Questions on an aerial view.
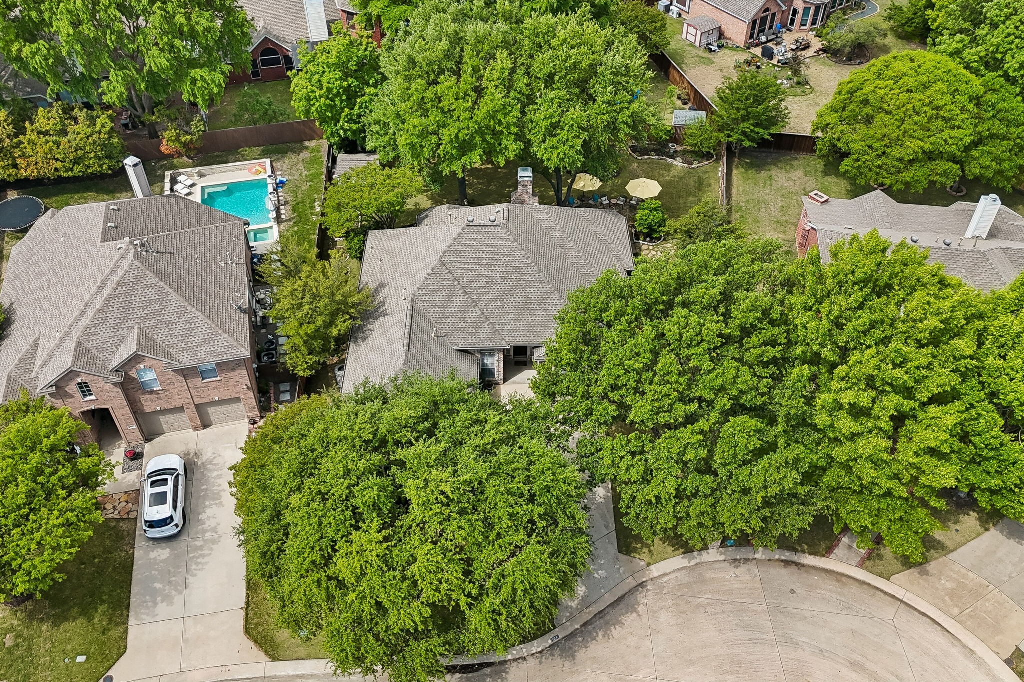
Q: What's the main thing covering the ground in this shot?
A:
trees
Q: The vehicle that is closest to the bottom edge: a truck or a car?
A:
car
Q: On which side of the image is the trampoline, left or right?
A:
left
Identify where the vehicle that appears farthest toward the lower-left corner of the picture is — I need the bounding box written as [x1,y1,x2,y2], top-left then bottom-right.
[138,459,189,546]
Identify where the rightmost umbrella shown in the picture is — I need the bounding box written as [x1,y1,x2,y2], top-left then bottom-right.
[626,180,662,202]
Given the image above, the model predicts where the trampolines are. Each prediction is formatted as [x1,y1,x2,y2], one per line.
[0,199,50,237]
